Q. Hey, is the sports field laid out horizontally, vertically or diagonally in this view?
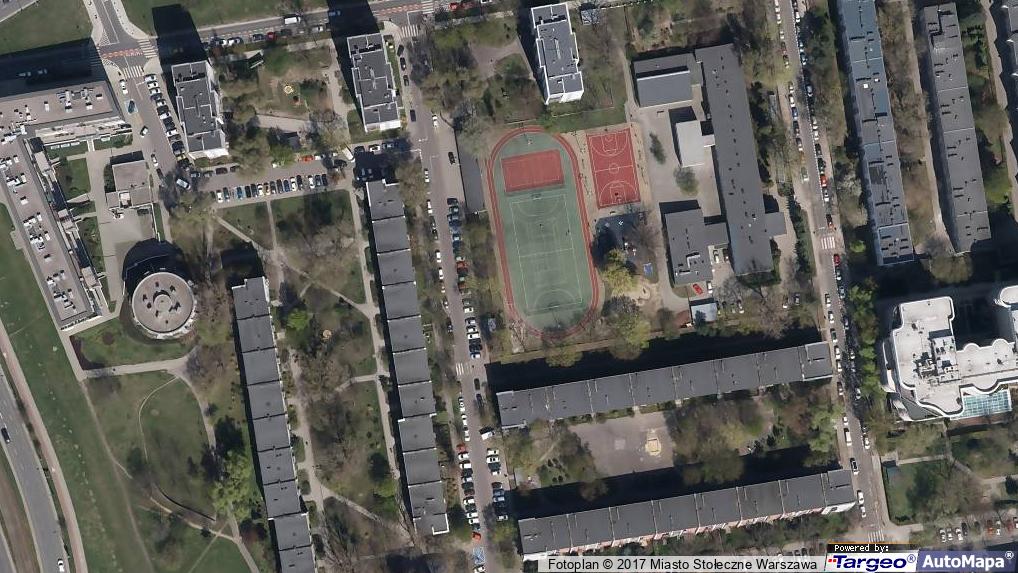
vertically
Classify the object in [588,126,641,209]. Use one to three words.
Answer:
basketball court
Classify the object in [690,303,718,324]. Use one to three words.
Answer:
shed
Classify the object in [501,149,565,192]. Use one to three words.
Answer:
tennis court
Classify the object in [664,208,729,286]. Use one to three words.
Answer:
building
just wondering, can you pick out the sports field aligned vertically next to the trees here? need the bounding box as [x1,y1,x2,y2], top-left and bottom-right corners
[496,135,589,330]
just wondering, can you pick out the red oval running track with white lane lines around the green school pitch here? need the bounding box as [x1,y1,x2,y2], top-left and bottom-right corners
[487,127,596,338]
